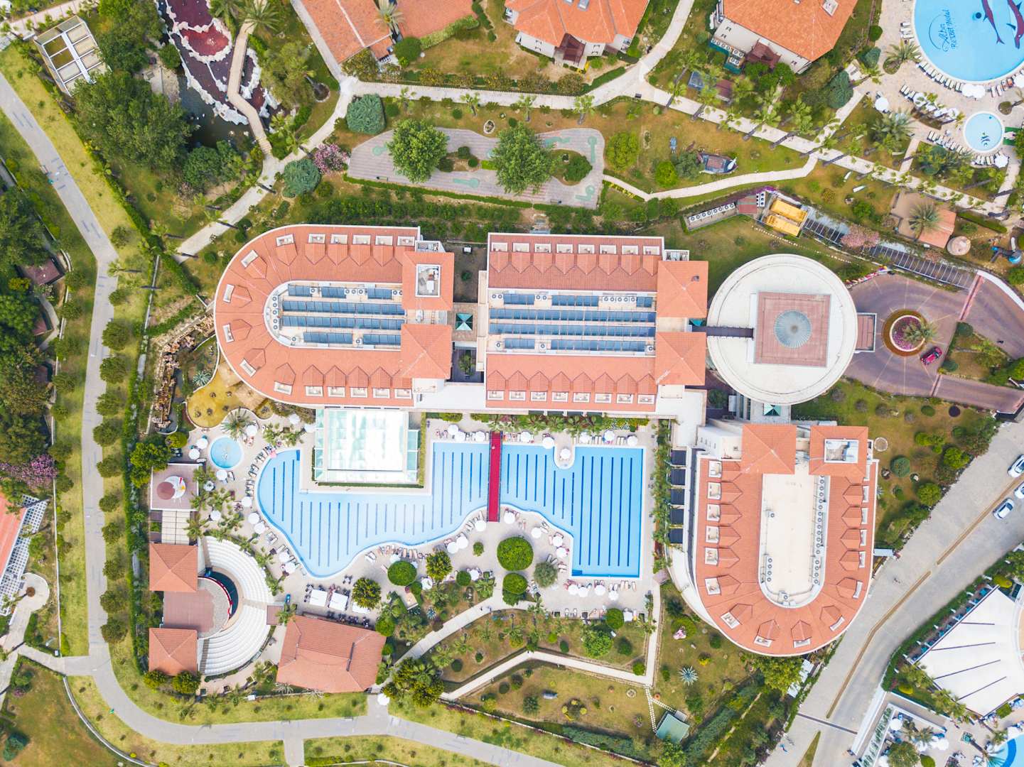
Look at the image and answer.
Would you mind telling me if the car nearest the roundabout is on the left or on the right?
right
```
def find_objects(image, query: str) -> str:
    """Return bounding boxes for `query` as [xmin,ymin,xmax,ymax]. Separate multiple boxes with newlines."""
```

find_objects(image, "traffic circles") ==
[883,310,928,356]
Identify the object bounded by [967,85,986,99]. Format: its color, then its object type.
white umbrella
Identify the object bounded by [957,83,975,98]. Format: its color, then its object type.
white umbrella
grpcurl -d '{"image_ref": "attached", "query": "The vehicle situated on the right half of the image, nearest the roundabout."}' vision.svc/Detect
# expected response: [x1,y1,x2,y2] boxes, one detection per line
[916,344,943,367]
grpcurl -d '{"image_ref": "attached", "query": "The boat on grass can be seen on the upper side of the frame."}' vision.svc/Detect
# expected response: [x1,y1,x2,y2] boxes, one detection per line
[700,154,735,170]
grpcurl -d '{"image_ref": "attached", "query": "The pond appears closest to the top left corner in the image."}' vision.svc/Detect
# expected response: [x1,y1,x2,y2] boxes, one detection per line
[153,0,273,149]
